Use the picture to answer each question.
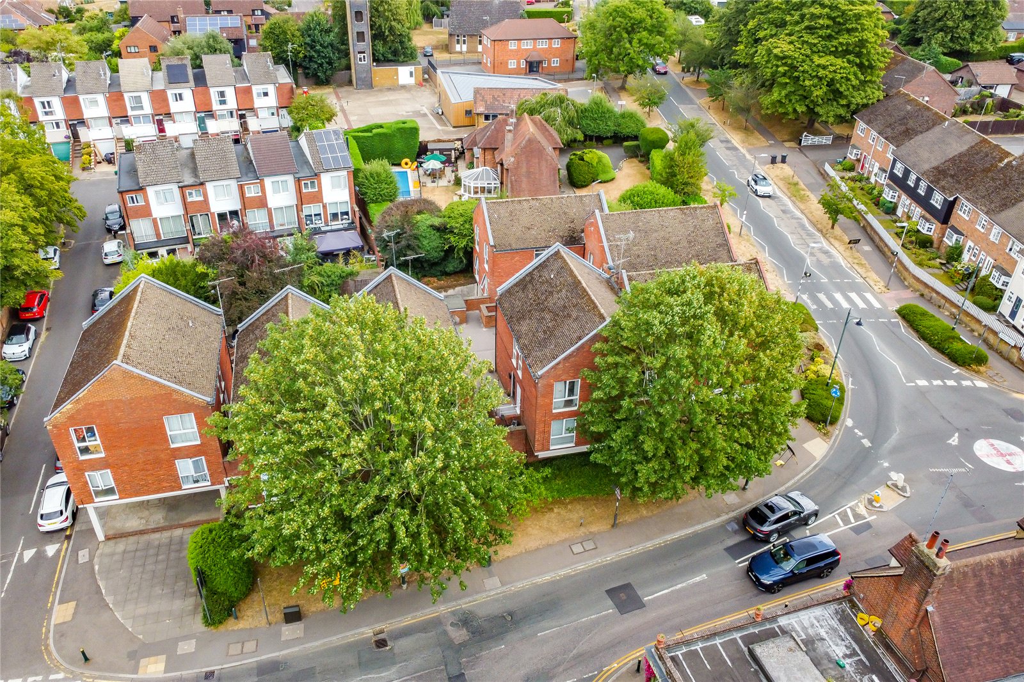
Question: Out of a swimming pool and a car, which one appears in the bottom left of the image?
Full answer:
The feature located in the bottom left of the image is a car.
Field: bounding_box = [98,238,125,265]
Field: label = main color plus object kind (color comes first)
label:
white car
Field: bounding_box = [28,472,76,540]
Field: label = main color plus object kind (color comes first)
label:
white car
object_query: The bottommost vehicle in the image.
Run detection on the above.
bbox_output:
[742,531,847,594]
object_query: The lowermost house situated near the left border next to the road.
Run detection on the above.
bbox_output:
[41,276,237,542]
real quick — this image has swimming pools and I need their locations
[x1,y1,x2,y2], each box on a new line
[387,166,413,200]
